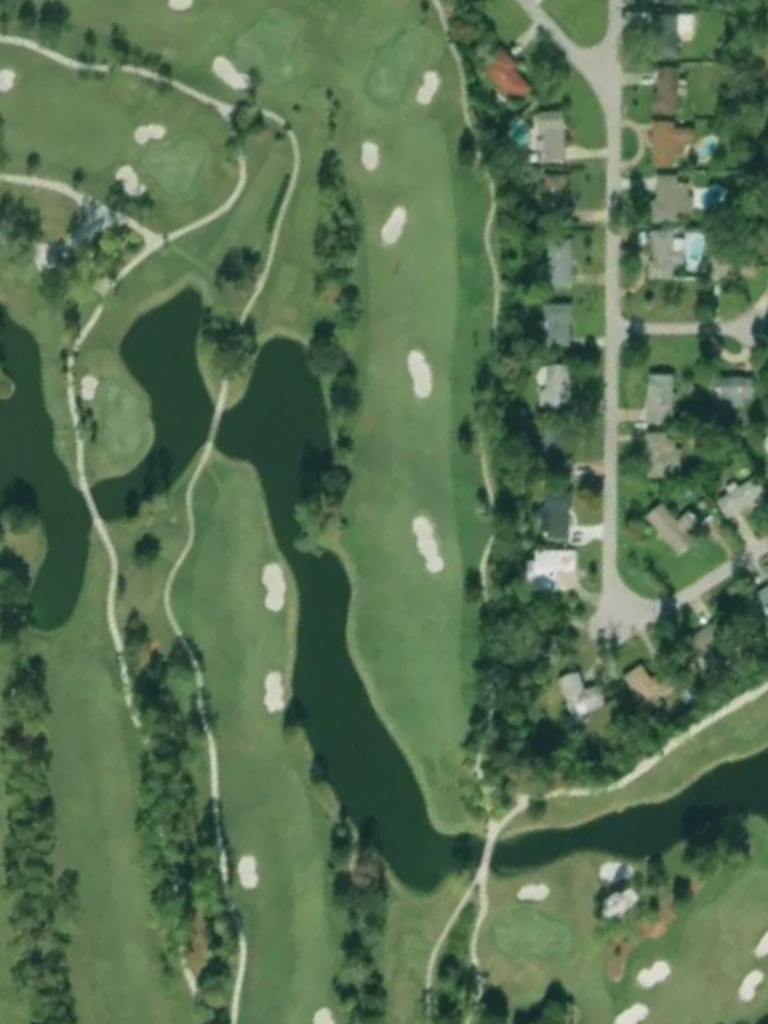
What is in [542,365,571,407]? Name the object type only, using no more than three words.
house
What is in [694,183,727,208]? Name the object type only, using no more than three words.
swimming pool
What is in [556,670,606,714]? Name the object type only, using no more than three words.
house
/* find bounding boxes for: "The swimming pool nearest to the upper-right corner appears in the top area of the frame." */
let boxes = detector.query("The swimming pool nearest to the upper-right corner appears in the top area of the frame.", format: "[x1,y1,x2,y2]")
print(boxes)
[696,135,718,164]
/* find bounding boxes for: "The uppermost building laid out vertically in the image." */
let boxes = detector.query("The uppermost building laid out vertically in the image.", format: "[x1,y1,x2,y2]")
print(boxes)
[661,13,680,62]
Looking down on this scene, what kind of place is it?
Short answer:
golf course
